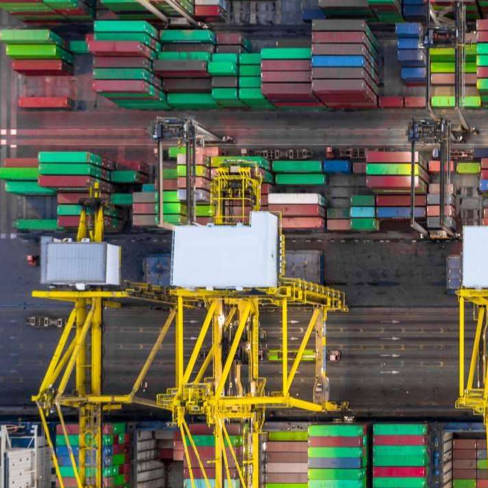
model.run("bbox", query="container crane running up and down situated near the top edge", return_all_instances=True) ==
[418,2,479,133]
